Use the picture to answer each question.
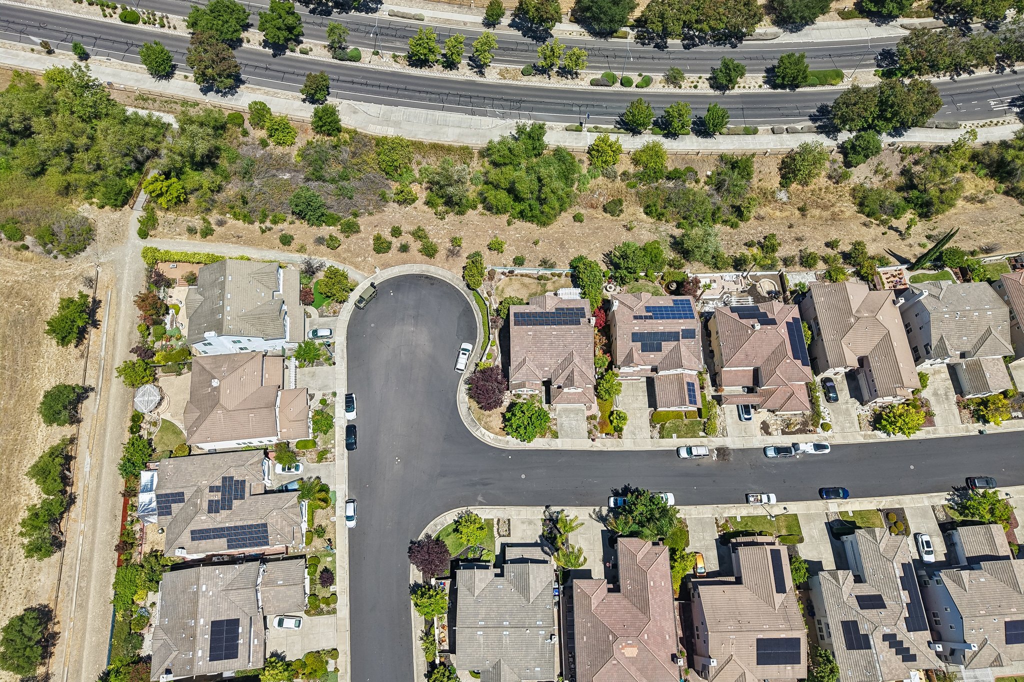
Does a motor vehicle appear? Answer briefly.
Yes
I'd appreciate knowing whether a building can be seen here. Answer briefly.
Yes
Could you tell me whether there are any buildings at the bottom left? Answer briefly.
Yes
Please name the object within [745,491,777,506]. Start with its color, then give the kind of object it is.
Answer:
white vehicle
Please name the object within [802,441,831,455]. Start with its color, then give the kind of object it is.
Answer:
white car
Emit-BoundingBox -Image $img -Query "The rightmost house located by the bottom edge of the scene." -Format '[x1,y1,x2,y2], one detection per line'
[922,525,1024,677]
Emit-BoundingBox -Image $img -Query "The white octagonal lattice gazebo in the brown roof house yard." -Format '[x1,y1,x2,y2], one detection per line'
[128,383,164,414]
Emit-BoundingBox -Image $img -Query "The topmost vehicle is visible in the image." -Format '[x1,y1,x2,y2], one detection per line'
[356,282,378,307]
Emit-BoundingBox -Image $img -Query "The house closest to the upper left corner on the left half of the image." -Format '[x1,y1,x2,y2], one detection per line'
[184,258,308,355]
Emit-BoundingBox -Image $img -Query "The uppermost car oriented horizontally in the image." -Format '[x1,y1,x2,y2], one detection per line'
[307,327,333,340]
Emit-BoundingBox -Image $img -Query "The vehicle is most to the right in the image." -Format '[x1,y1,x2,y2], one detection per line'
[964,475,998,489]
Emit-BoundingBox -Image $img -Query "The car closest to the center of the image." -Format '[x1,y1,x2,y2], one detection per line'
[455,343,474,372]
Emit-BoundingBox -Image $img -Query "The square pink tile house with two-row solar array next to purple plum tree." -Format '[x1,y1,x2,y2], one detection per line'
[509,294,597,408]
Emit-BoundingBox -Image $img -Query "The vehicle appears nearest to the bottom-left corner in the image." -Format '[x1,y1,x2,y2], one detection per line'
[271,615,305,631]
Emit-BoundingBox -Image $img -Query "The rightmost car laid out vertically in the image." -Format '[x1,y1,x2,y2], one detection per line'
[916,532,935,566]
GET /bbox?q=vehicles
[764,445,795,458]
[692,550,708,578]
[802,441,831,455]
[820,376,839,404]
[817,486,850,501]
[677,444,711,459]
[274,461,305,475]
[964,475,998,489]
[344,423,358,452]
[455,343,474,372]
[916,532,935,566]
[646,492,676,505]
[272,473,303,494]
[343,497,358,529]
[344,392,358,420]
[356,282,378,307]
[271,615,305,631]
[745,491,777,506]
[307,327,333,340]
[738,404,753,425]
